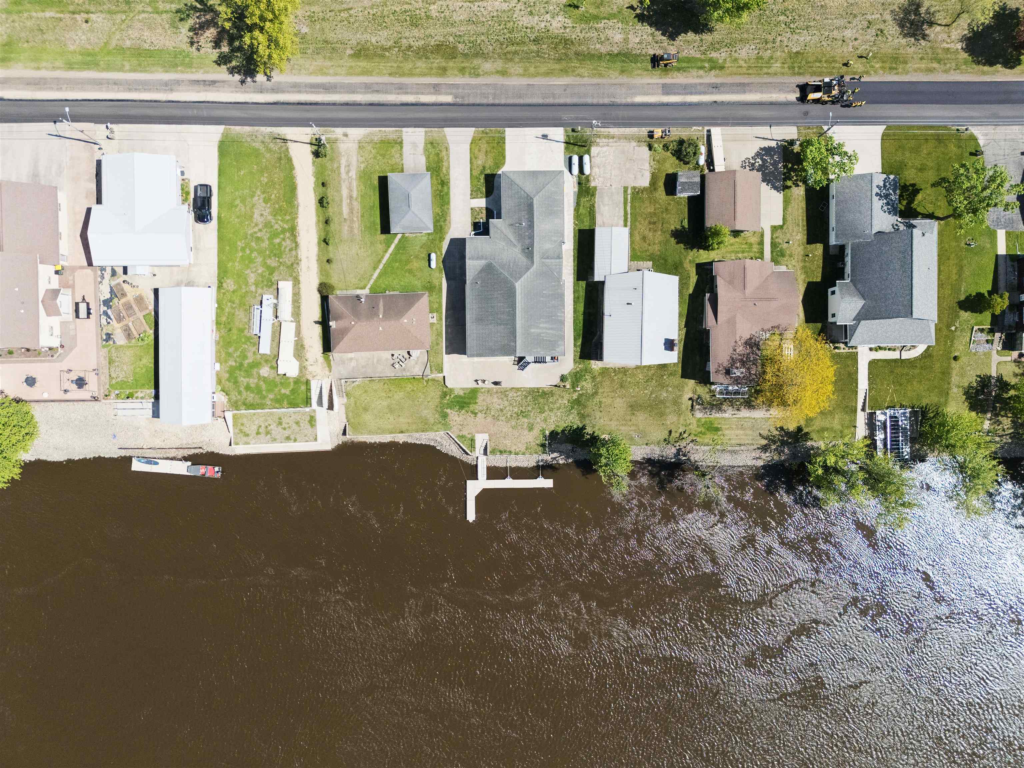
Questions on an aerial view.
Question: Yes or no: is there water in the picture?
Yes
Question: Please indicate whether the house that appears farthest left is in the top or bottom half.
top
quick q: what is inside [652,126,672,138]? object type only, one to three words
vehicle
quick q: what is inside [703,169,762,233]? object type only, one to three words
building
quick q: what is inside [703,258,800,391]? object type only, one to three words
house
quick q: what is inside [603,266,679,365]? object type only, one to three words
house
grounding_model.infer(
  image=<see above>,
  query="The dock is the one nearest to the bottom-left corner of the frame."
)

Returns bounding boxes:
[132,457,192,474]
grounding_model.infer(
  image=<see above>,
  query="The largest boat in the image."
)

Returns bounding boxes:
[186,467,221,480]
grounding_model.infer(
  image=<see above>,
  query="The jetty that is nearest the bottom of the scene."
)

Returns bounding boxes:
[467,479,553,522]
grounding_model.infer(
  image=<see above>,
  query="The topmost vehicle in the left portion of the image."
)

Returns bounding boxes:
[192,183,211,224]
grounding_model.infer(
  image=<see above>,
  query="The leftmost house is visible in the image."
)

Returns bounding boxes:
[0,180,74,351]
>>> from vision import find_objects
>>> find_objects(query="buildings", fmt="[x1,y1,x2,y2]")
[674,170,701,198]
[87,152,197,275]
[703,258,800,391]
[466,169,566,358]
[703,169,762,233]
[328,291,431,354]
[158,287,220,426]
[0,180,74,351]
[827,172,938,346]
[603,266,679,365]
[387,171,434,235]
